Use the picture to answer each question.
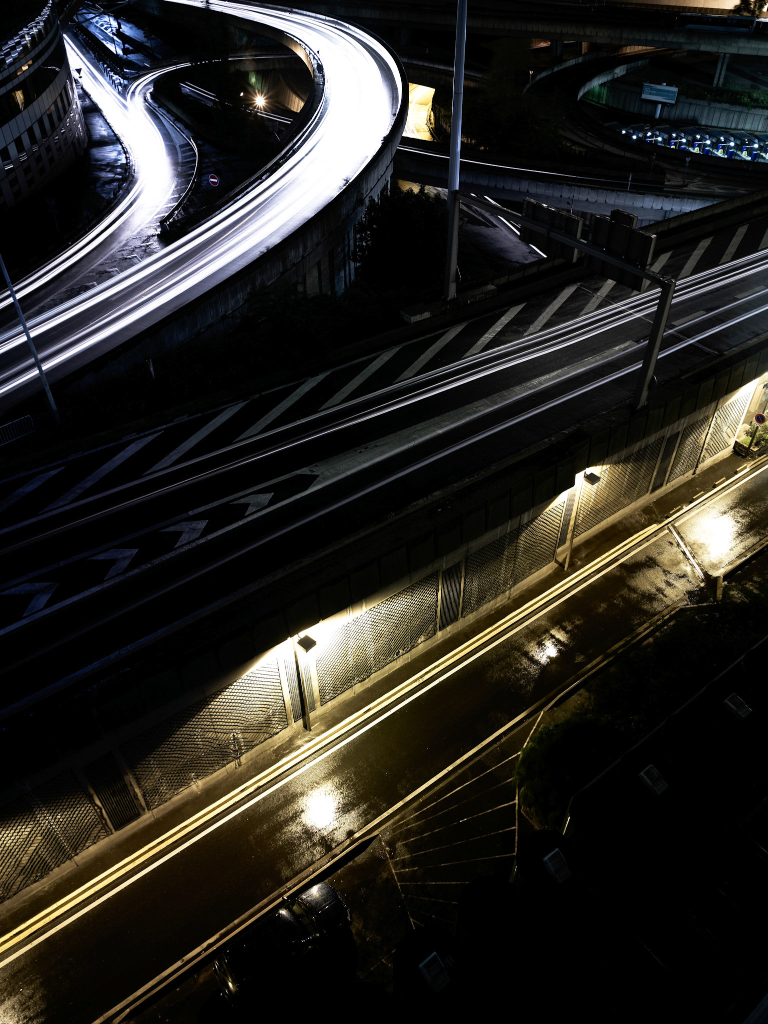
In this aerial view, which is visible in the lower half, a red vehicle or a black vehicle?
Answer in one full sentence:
The one visible in the lower half is a black vehicle.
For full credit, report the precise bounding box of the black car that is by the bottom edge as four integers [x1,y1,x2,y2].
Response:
[212,891,350,1006]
